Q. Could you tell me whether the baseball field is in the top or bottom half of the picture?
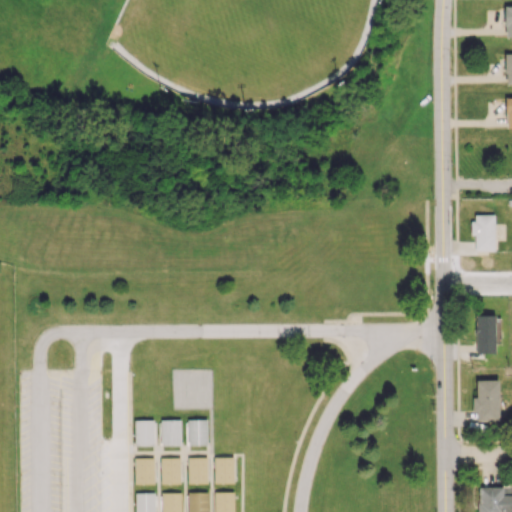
top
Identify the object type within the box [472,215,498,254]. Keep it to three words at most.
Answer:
house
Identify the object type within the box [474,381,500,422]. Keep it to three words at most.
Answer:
house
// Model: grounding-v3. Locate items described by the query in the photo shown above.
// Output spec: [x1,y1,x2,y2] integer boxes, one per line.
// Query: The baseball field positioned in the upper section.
[110,0,378,108]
